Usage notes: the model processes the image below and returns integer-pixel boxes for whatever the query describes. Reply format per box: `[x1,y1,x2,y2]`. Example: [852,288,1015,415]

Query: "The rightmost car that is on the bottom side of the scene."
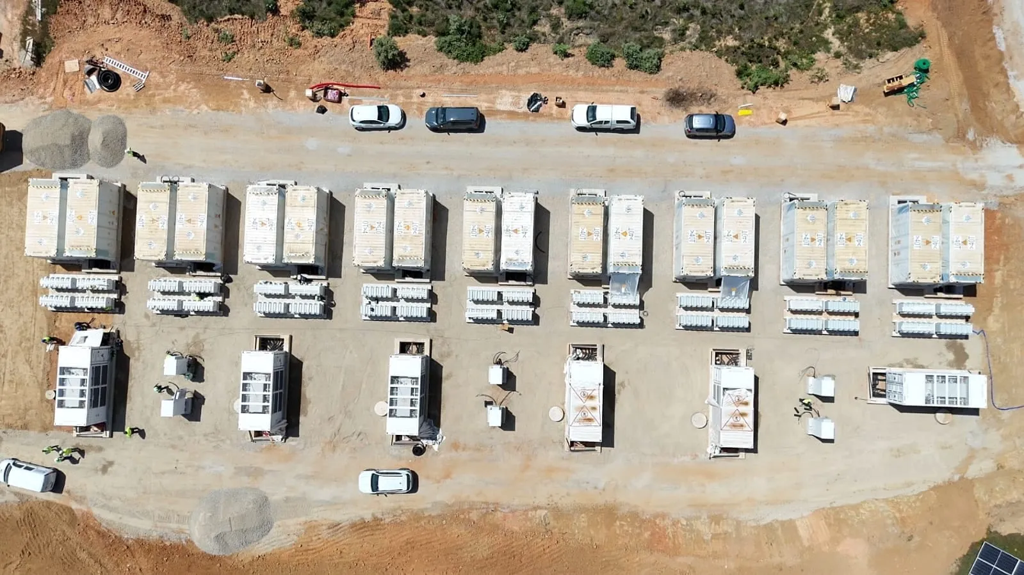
[360,467,413,496]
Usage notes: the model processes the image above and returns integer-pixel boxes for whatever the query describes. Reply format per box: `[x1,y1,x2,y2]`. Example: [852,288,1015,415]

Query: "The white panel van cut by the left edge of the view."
[0,458,61,494]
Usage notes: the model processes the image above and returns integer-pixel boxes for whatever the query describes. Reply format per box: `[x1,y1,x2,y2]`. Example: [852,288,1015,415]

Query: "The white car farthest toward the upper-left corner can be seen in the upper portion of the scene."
[350,102,404,130]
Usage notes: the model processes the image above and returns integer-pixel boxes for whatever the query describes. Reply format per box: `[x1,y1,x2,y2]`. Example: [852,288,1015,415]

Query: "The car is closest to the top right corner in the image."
[683,110,734,139]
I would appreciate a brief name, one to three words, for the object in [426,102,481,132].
car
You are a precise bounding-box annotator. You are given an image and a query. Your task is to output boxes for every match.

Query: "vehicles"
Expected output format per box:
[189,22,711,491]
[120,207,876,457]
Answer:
[350,102,404,130]
[426,102,481,132]
[0,458,61,494]
[683,110,734,139]
[571,100,637,132]
[360,467,413,496]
